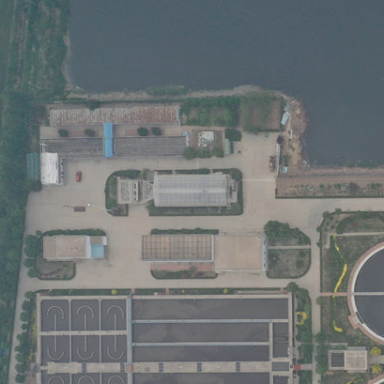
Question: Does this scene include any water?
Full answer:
Yes, there's water in this view.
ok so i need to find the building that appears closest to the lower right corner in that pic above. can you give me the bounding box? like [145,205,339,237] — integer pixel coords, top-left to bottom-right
[329,347,369,371]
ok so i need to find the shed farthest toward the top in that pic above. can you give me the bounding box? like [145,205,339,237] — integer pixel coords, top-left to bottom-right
[50,106,183,125]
